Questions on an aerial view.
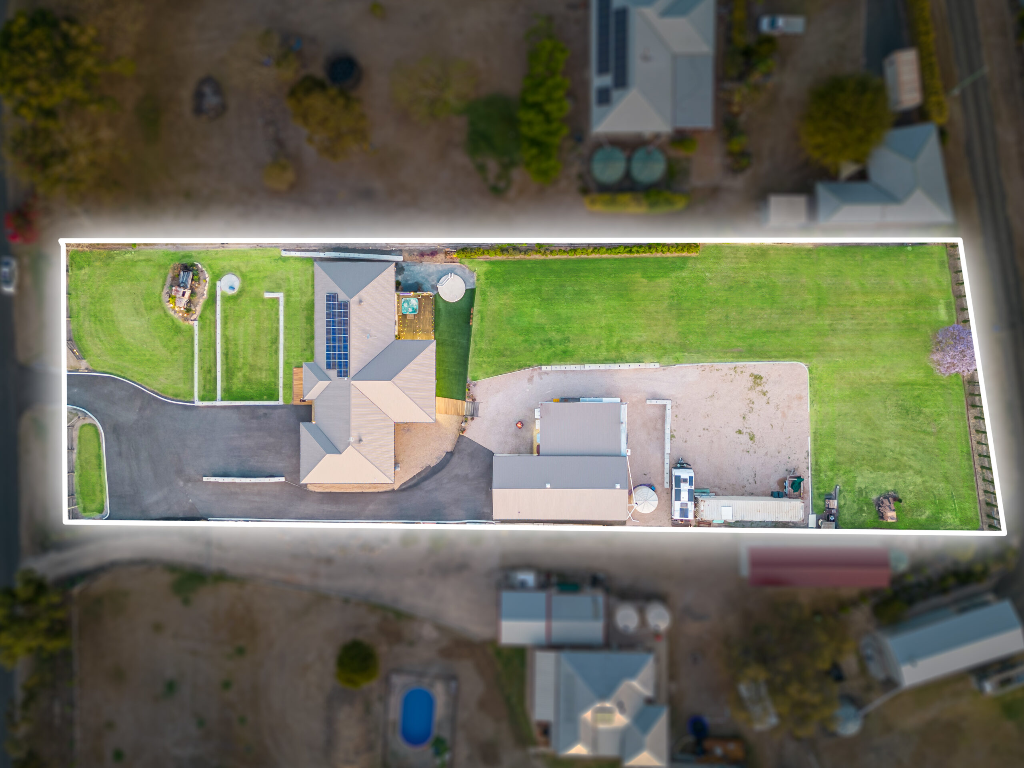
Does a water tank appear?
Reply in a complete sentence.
Yes, you can see a water tank in this photo.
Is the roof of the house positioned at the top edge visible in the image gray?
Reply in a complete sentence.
Yes, the roof of the house positioned at the top edge is gray.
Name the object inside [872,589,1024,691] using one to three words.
shed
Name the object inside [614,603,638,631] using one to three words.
water tank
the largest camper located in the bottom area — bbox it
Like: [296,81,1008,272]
[668,455,694,519]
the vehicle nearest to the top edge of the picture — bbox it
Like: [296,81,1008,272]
[758,15,804,36]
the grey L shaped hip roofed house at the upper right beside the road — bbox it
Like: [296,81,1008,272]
[810,181,951,228]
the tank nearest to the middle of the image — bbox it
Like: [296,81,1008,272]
[438,274,466,303]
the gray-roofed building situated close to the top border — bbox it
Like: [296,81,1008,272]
[591,0,715,136]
